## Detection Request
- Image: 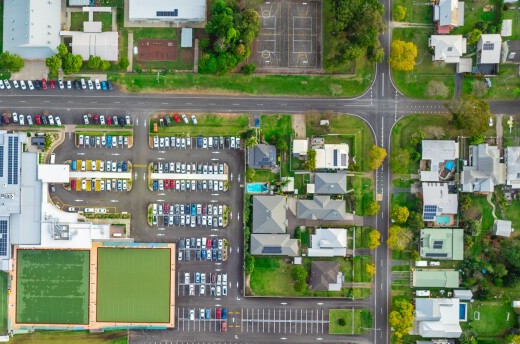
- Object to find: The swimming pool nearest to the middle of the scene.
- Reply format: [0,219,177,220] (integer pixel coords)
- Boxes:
[246,181,270,194]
